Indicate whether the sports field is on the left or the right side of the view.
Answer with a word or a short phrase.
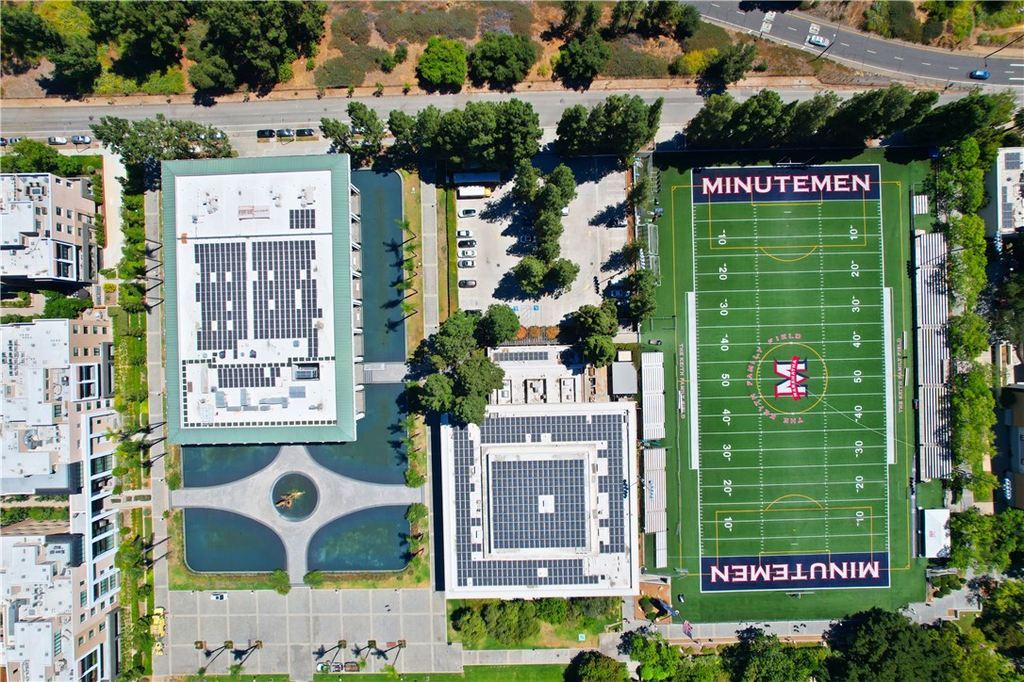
right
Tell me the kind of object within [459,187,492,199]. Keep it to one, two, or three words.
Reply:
vehicle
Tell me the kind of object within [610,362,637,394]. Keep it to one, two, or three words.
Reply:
shed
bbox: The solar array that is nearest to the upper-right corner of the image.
[1006,151,1021,167]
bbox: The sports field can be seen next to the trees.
[633,143,935,626]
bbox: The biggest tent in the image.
[918,506,950,558]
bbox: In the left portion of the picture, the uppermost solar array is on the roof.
[290,209,315,229]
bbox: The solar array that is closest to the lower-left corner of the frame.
[218,368,280,387]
